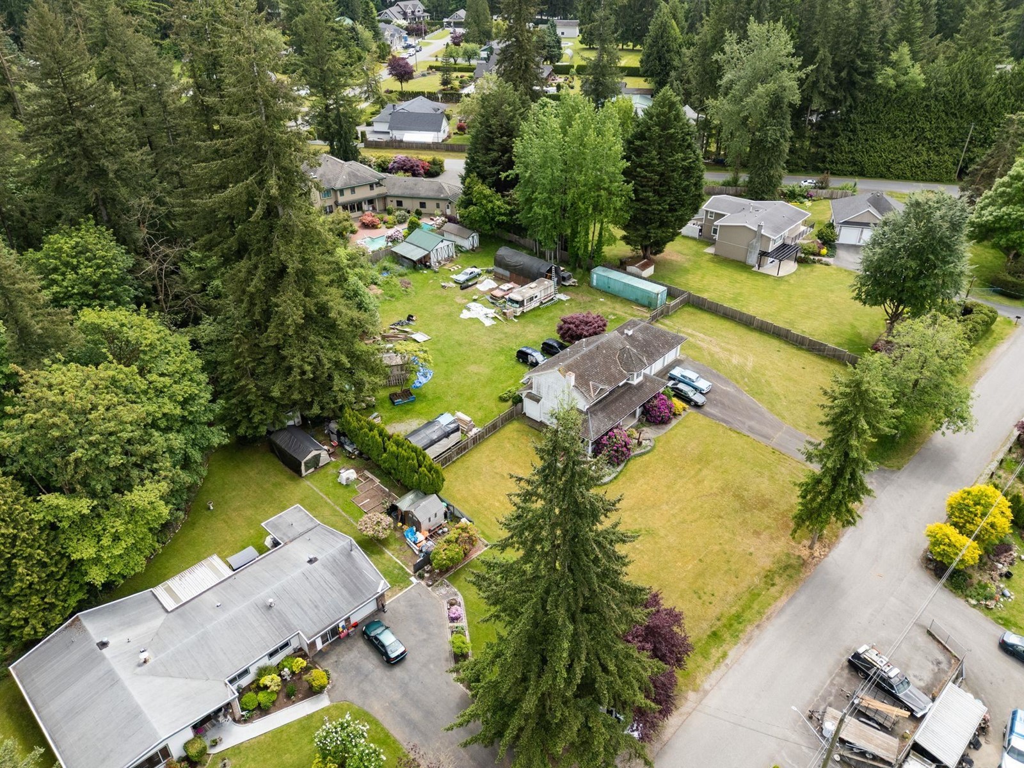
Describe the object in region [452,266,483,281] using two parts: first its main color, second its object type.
white car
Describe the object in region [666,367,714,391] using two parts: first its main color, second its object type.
white car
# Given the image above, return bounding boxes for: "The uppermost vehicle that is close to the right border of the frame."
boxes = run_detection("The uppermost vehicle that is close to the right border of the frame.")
[980,625,1024,668]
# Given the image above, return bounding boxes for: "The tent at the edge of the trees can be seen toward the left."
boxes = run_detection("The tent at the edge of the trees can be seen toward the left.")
[260,421,330,475]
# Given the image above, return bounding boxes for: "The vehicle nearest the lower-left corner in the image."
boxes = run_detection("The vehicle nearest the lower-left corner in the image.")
[364,612,410,664]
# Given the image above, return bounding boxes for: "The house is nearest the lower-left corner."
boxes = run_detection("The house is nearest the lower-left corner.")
[9,506,391,768]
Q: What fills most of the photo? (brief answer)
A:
trees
